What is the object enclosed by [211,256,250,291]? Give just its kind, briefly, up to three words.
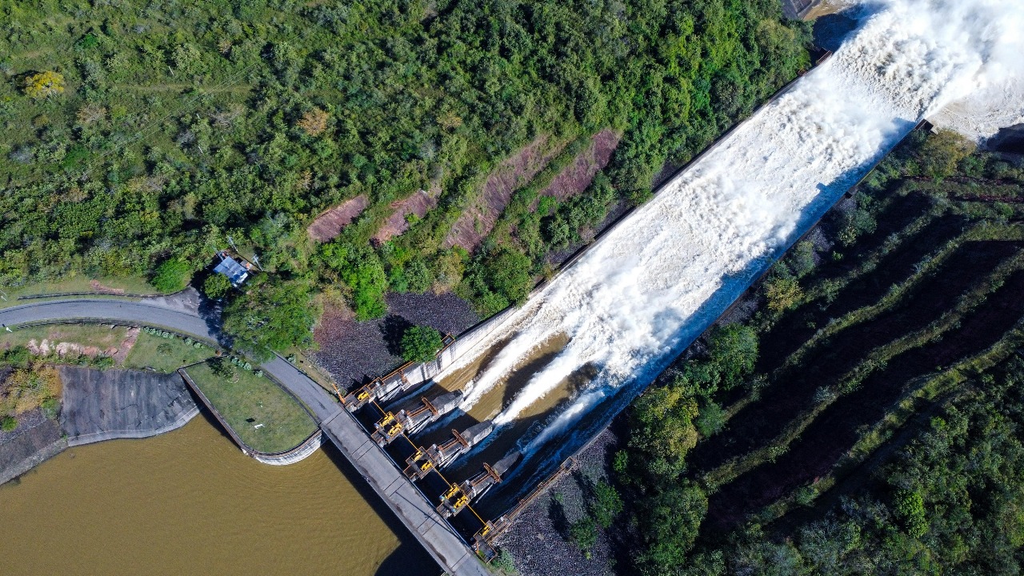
house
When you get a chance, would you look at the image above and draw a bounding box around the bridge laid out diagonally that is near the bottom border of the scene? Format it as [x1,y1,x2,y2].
[321,405,502,576]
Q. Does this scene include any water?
Yes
